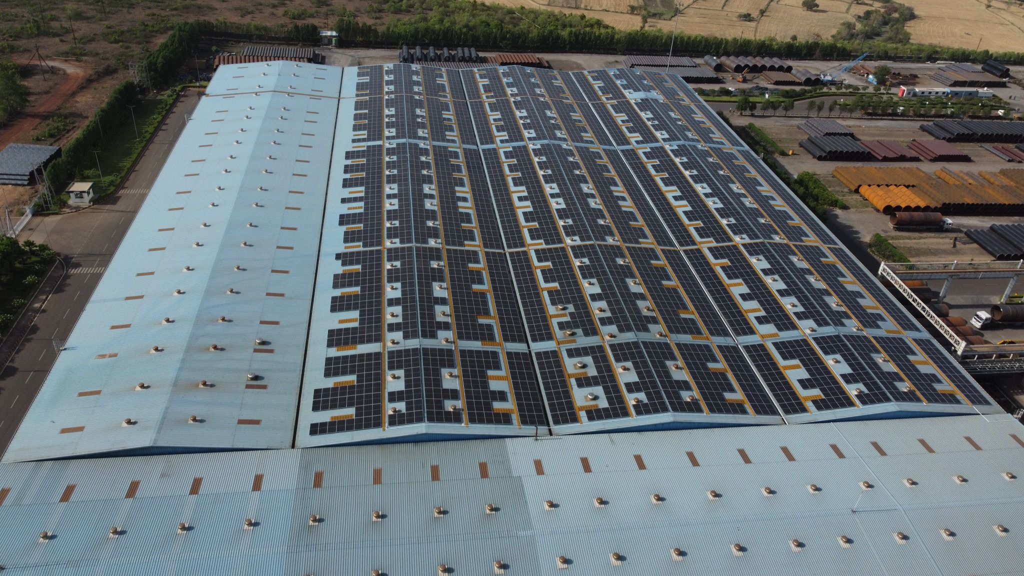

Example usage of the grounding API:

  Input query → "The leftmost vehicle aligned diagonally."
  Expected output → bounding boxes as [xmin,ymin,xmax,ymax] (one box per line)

[738,64,754,83]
